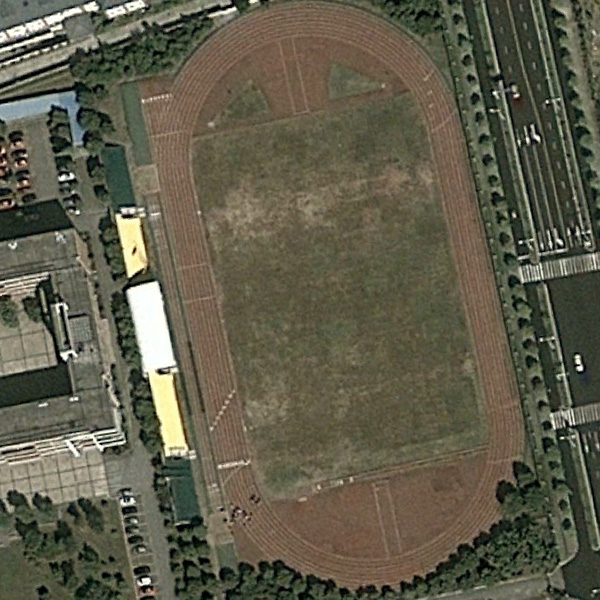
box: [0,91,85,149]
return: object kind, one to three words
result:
shed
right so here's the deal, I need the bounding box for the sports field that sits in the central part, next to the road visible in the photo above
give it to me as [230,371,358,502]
[193,94,489,501]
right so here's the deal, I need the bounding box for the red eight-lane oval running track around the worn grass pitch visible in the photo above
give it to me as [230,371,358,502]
[141,0,527,592]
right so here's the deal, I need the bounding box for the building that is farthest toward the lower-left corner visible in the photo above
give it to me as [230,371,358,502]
[0,227,130,473]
